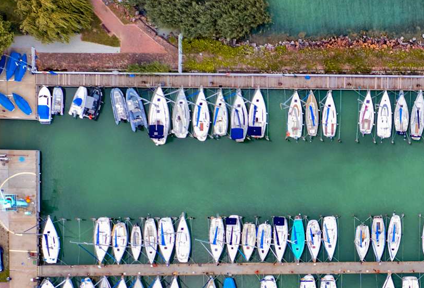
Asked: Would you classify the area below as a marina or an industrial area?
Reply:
marina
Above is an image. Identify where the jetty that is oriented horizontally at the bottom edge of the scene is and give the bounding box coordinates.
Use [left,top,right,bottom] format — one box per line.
[41,262,424,278]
